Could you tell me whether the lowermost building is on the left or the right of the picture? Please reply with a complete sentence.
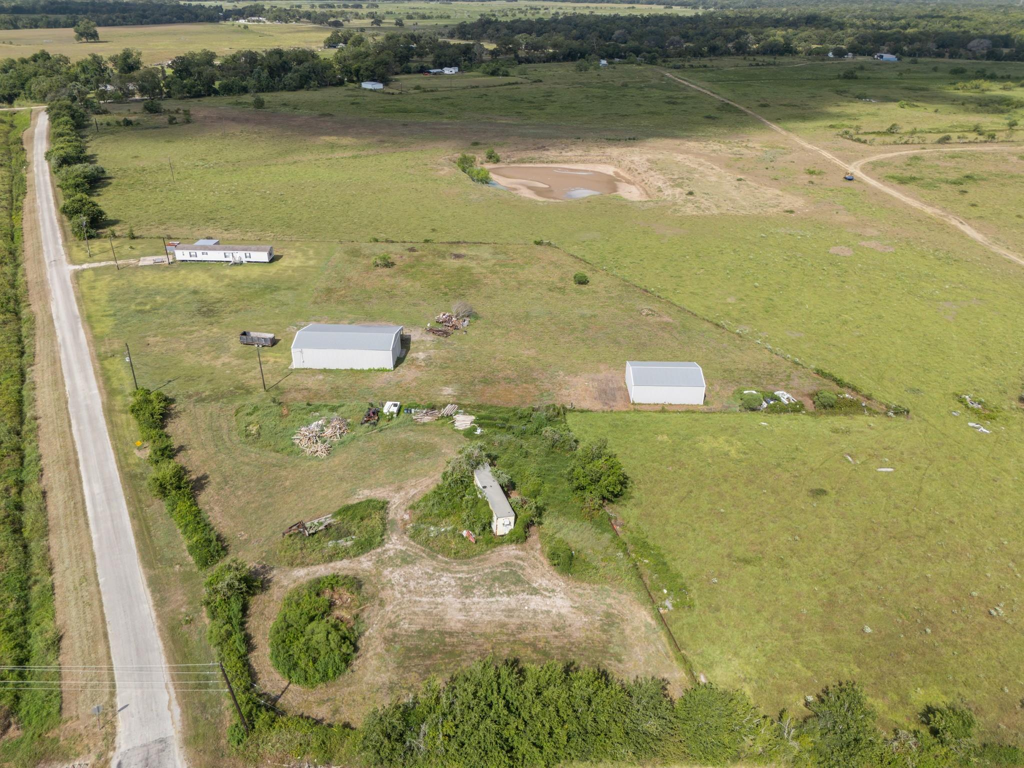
The lowermost building sits on the right side.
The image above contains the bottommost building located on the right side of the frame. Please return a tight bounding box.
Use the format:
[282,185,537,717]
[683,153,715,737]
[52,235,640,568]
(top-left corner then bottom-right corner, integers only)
[625,361,708,405]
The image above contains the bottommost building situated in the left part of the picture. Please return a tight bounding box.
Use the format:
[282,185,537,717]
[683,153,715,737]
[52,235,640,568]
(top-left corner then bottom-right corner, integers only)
[290,324,407,370]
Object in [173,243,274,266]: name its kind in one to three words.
house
